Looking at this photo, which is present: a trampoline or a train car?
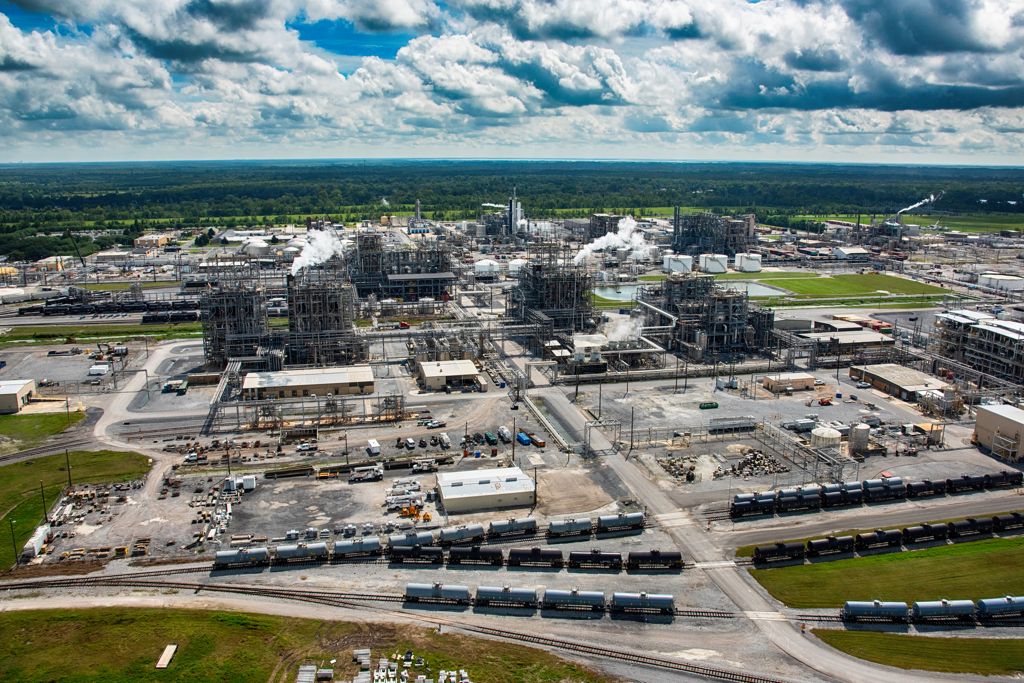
train car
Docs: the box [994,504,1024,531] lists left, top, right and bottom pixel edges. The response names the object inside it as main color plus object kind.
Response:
black rail car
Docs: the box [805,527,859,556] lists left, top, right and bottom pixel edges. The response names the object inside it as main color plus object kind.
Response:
black rail car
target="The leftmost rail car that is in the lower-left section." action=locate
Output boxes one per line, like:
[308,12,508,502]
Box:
[207,540,271,568]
